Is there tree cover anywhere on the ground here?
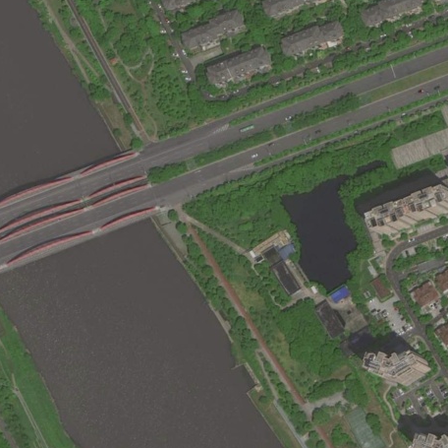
Yes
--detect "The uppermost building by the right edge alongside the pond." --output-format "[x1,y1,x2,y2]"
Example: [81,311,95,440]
[364,185,448,237]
